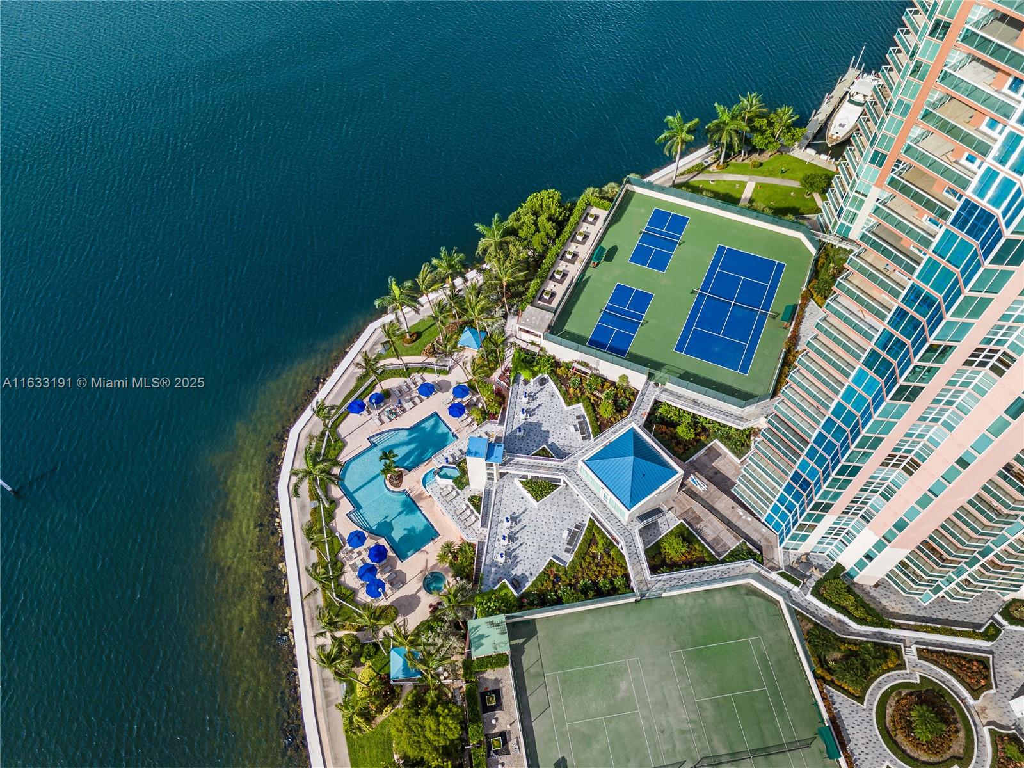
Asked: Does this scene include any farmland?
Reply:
No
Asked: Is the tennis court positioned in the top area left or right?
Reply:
right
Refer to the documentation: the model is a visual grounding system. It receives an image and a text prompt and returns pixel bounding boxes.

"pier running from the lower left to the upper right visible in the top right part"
[799,68,859,149]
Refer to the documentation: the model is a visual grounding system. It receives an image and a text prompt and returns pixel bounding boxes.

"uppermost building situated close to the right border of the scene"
[731,0,1024,606]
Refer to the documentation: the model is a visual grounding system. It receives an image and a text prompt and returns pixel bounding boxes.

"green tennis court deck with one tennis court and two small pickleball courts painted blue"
[543,193,812,400]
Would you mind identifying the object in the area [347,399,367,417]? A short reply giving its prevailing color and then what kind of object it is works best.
blue umbrella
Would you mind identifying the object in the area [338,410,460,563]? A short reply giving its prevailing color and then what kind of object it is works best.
blue swimming pool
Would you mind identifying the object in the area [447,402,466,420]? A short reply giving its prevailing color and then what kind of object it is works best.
blue umbrella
